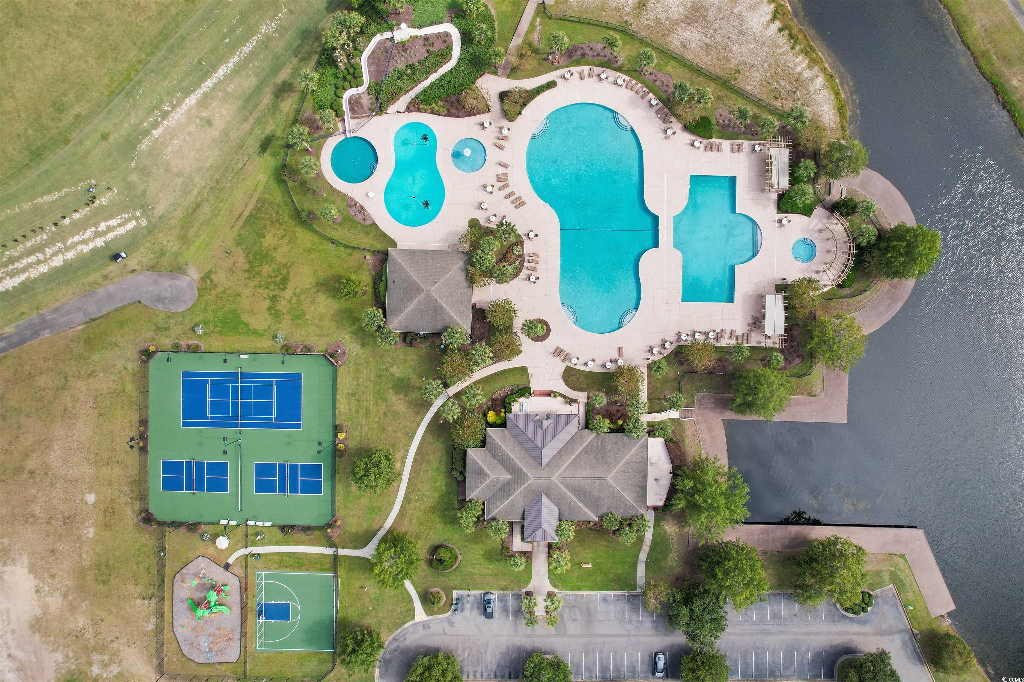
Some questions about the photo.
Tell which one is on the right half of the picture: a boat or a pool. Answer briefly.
pool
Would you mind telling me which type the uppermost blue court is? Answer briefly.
tennis court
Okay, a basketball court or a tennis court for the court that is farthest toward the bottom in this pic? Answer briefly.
basketball court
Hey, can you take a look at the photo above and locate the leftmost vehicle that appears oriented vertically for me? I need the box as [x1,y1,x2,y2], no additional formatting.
[482,594,495,621]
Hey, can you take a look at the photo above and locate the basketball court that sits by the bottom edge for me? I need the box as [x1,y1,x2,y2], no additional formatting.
[254,571,336,652]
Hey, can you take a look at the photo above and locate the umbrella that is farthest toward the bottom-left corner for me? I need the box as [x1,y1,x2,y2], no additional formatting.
[216,536,230,549]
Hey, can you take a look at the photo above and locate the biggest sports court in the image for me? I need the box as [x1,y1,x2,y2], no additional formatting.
[148,352,337,526]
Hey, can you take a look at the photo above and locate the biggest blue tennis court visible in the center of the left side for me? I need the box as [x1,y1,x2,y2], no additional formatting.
[181,367,302,435]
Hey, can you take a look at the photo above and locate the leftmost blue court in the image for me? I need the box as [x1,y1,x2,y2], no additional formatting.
[161,459,229,495]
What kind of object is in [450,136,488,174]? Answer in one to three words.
swimming pool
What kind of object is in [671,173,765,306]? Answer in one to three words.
swimming pool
